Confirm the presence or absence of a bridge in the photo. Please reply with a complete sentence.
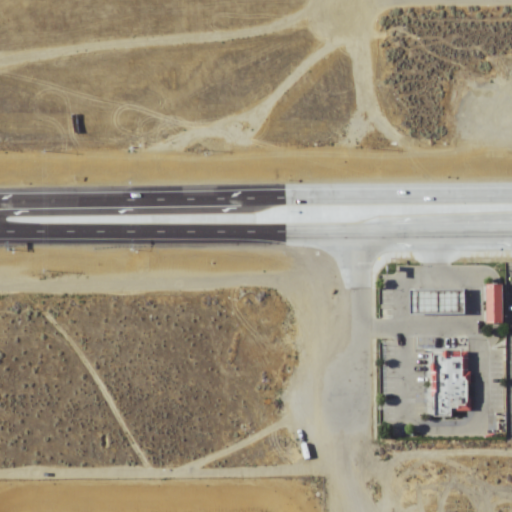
No, there's no bridge here.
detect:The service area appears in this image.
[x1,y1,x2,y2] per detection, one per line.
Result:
[374,264,506,435]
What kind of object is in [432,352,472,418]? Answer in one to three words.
building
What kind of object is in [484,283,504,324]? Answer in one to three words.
building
